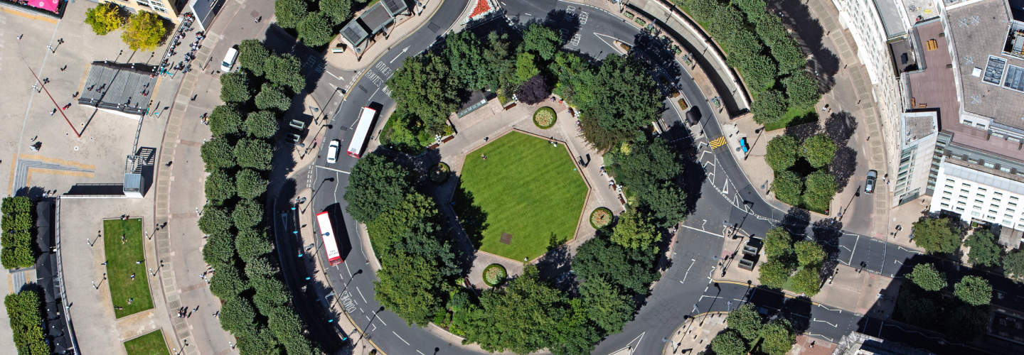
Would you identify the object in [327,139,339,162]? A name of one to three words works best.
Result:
vehicle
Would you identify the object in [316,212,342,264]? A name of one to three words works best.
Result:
bus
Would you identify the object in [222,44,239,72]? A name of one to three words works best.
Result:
vehicle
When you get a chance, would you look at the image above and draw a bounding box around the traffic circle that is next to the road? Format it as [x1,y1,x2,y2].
[316,0,718,355]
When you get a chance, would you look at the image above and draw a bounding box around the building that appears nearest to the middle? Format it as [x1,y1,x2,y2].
[450,87,489,123]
